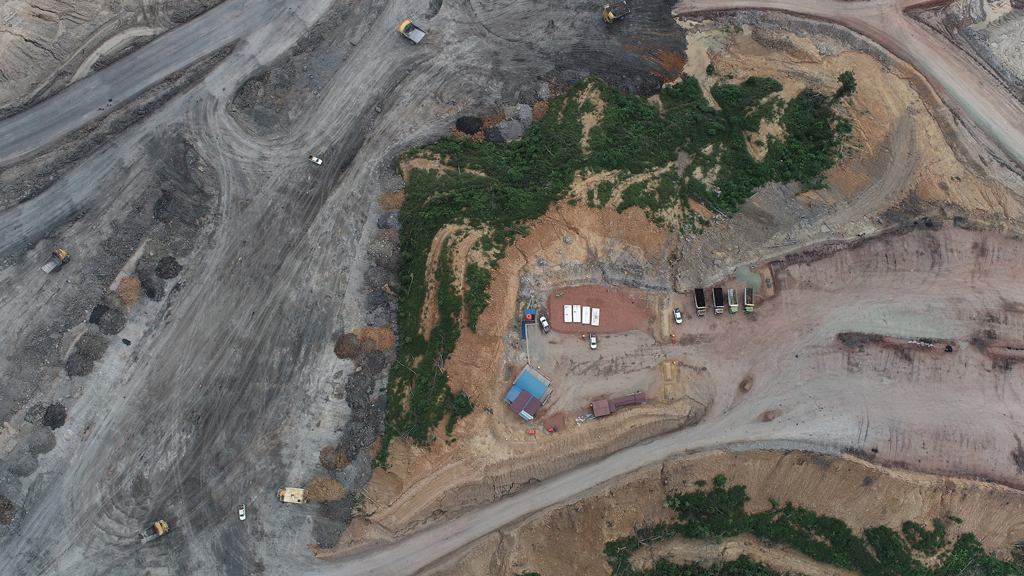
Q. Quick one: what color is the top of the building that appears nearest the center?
blue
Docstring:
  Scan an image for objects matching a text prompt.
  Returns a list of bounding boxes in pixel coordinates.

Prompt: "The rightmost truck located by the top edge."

[599,0,631,25]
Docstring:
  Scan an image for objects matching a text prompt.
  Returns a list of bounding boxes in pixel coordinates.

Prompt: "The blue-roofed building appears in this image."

[505,364,552,421]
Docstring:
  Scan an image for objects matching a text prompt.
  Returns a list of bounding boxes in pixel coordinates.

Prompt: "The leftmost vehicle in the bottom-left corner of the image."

[139,518,174,546]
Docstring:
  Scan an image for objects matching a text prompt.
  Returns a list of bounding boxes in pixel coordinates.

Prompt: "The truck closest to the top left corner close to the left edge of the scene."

[40,249,73,276]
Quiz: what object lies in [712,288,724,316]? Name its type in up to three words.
vehicle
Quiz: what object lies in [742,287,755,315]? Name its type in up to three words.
vehicle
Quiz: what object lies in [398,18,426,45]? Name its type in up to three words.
truck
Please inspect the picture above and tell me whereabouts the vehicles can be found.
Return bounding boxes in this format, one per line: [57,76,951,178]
[742,287,755,315]
[590,333,597,350]
[599,0,631,25]
[712,288,724,316]
[238,503,246,521]
[539,316,550,333]
[139,518,174,546]
[277,487,309,505]
[673,308,682,324]
[398,18,426,45]
[308,154,323,165]
[40,249,73,276]
[727,288,739,316]
[694,288,707,317]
